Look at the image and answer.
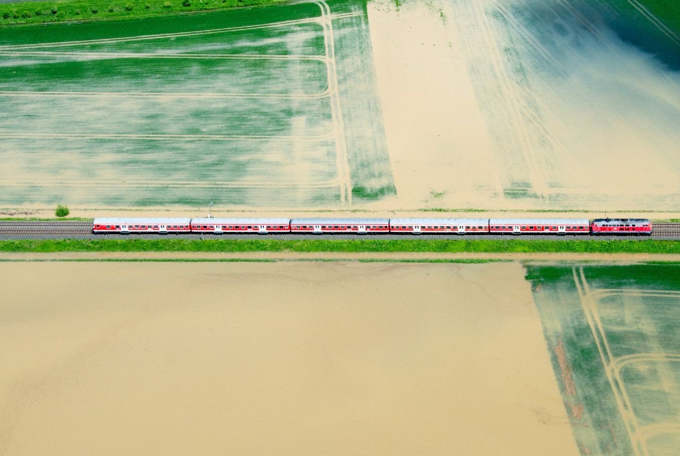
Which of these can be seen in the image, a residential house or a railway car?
railway car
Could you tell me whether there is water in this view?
Yes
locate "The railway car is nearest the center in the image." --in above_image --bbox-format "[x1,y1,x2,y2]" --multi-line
[289,218,389,235]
